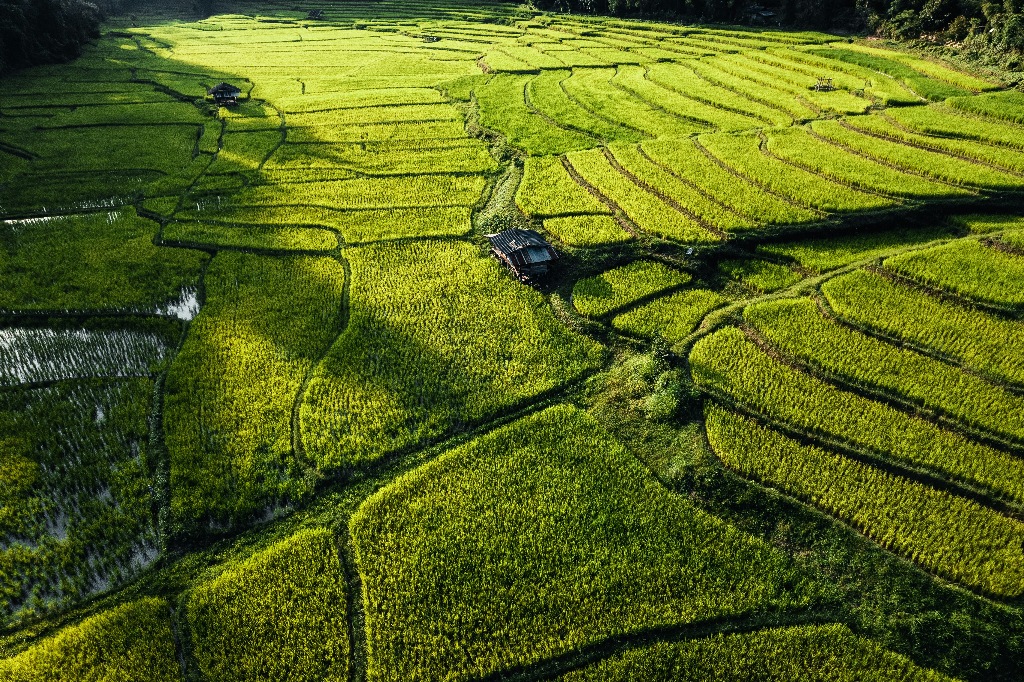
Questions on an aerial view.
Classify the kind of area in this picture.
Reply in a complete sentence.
This image shows farmland.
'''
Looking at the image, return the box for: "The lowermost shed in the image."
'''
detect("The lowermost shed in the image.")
[478,227,559,279]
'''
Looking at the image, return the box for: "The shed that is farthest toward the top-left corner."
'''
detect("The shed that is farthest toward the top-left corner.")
[205,81,247,107]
